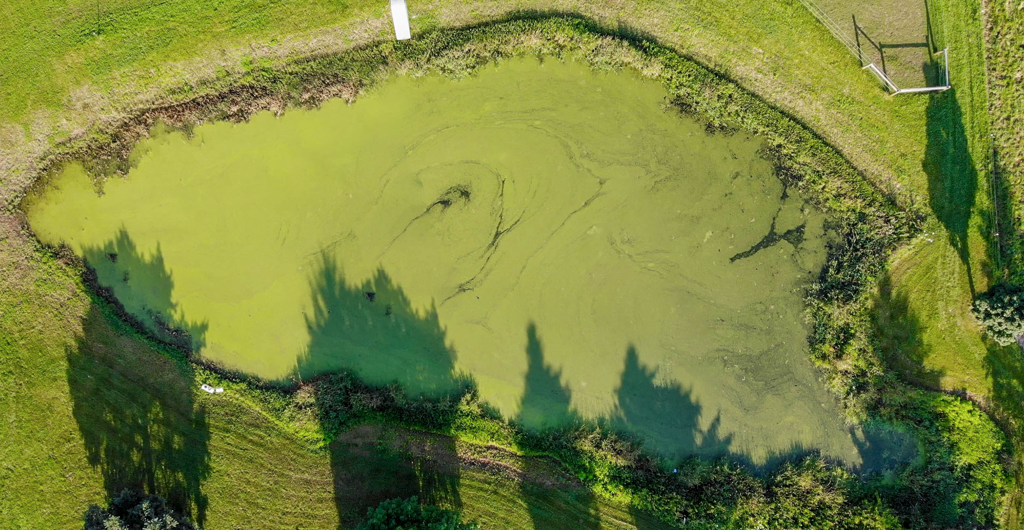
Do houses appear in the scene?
No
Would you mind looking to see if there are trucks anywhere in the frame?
No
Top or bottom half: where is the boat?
top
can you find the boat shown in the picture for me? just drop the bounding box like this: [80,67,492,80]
[391,0,412,38]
